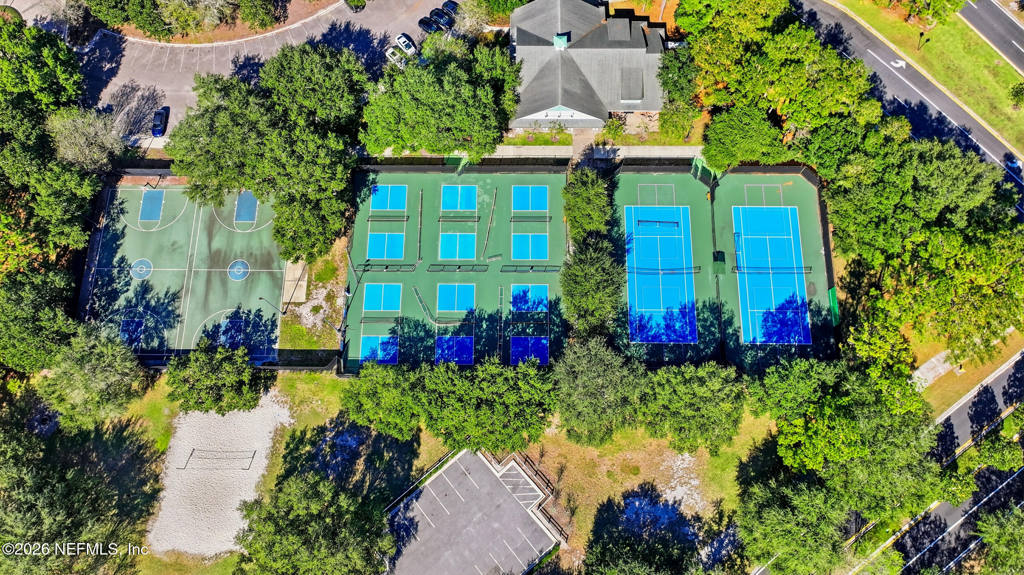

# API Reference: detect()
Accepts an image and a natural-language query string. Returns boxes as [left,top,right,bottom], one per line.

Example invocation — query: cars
[415,14,436,36]
[386,48,408,71]
[393,32,417,55]
[151,111,167,137]
[429,6,454,28]
[439,0,462,20]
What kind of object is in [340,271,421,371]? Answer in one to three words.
sports court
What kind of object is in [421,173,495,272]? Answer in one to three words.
sports court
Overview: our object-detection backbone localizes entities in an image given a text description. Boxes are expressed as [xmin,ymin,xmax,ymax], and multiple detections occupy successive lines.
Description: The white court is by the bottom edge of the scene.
[144,388,296,559]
